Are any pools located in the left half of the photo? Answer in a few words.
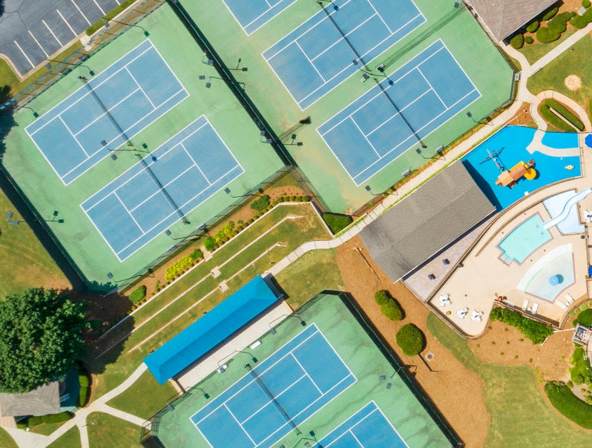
No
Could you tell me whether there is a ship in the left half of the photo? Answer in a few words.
No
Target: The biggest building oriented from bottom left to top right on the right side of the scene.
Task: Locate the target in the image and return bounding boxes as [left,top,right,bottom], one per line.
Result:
[359,159,496,283]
